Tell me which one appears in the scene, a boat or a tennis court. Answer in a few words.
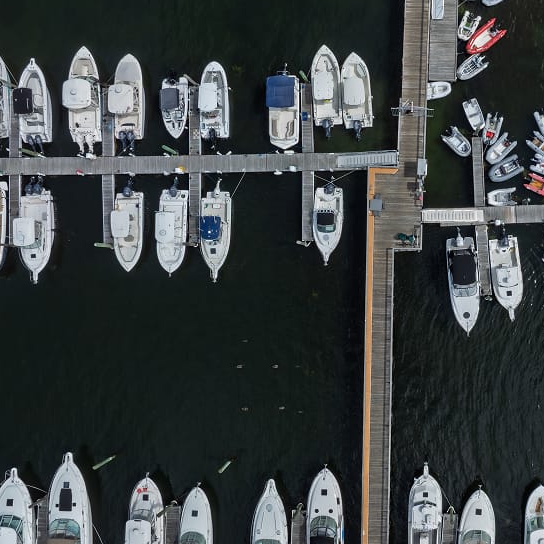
boat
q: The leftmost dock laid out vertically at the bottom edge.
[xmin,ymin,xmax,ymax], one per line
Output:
[36,496,51,544]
